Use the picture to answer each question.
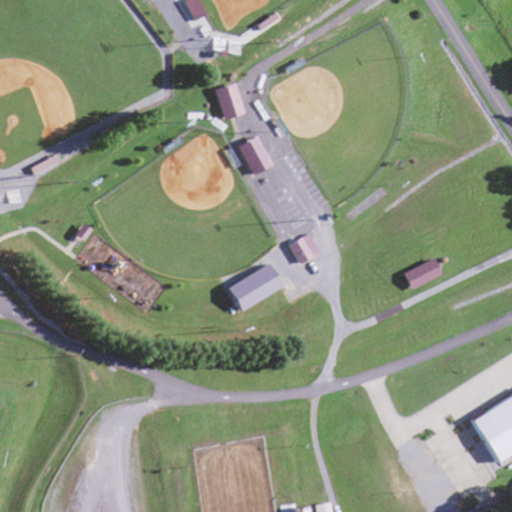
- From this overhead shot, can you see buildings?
Yes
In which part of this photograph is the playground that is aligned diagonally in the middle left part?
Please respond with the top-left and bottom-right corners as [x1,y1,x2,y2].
[76,234,163,314]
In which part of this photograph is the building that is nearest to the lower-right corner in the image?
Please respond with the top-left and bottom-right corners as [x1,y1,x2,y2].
[470,393,512,466]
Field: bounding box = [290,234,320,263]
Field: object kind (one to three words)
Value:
building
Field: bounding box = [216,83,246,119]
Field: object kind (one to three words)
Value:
building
